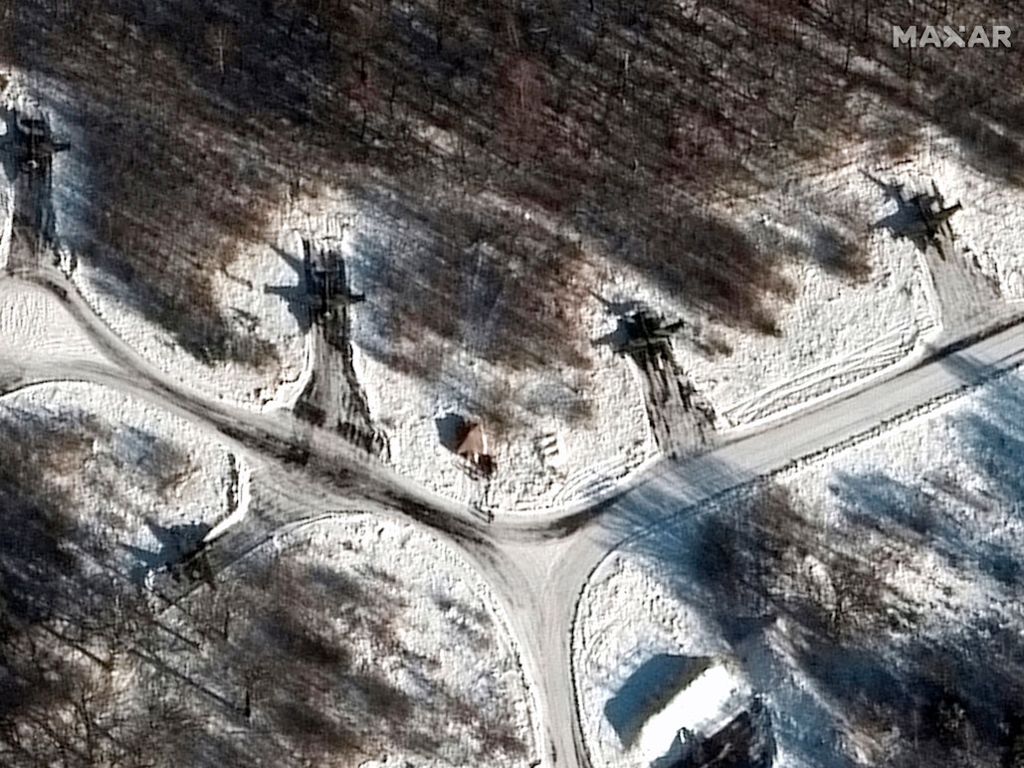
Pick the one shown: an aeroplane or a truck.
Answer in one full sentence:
It is an aeroplane that can be seen here.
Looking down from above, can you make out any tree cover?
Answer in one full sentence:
Yes, there is tree cover in the image.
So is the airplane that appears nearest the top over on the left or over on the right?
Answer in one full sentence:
You can find the airplane that appears nearest the top on the left side of the picture.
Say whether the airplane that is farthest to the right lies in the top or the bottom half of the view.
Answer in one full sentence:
You can find the airplane that is farthest to the right in the top half.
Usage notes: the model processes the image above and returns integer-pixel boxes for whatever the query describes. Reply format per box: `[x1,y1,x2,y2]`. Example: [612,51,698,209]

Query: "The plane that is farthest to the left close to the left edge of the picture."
[0,110,74,184]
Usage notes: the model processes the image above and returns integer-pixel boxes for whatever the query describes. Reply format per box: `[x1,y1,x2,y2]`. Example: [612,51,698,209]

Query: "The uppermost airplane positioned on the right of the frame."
[881,179,961,251]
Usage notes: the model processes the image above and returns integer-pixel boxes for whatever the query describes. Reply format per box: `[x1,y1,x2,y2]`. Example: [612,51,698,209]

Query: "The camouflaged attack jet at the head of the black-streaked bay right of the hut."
[605,295,686,371]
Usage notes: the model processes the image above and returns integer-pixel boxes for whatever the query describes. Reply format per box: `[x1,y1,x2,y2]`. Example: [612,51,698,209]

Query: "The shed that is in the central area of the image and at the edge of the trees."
[458,420,488,471]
